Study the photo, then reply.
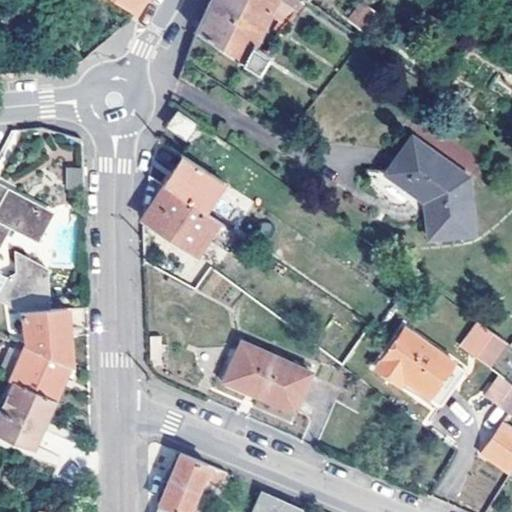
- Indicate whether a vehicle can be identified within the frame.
Yes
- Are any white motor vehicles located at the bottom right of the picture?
Yes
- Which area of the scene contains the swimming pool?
left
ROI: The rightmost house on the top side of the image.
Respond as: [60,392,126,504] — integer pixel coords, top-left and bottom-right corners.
[384,132,480,242]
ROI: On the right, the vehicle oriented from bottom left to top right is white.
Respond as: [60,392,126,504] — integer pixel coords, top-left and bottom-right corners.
[482,406,504,430]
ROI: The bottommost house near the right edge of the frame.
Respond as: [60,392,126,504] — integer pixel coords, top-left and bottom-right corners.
[480,422,512,476]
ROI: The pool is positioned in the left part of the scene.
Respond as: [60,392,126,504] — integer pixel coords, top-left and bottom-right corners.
[54,214,78,268]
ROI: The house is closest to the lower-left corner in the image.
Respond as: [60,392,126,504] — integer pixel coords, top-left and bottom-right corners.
[0,384,58,452]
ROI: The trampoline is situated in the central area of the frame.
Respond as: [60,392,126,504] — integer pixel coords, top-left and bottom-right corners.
[258,218,276,237]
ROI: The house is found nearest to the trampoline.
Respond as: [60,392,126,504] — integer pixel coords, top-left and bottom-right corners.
[140,156,228,260]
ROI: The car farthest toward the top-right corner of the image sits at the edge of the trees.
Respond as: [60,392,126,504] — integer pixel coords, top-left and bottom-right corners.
[322,163,339,181]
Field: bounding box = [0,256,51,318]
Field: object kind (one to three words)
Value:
building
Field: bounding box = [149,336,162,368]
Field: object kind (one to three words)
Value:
shed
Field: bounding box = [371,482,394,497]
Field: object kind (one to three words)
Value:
car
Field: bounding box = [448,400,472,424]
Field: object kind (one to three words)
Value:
vehicle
